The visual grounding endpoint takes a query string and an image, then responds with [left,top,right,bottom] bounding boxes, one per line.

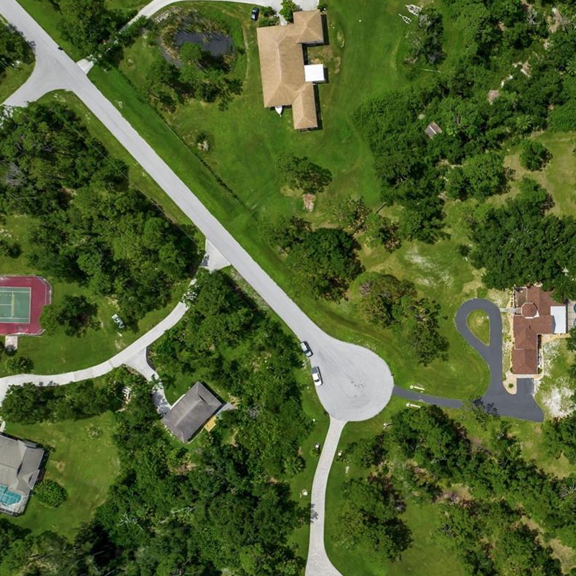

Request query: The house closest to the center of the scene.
[162,381,224,442]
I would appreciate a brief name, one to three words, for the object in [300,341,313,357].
vehicle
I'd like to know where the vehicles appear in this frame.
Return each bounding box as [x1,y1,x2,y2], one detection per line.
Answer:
[112,314,124,326]
[312,366,323,386]
[252,7,260,21]
[300,341,313,357]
